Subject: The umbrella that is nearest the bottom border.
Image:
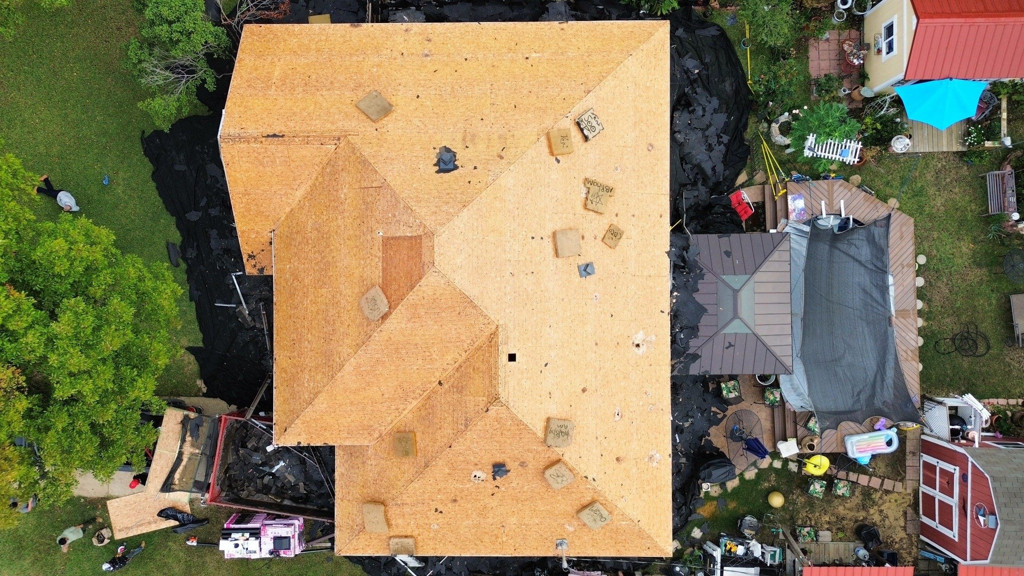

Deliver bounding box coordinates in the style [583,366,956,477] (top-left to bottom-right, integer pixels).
[745,438,773,463]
